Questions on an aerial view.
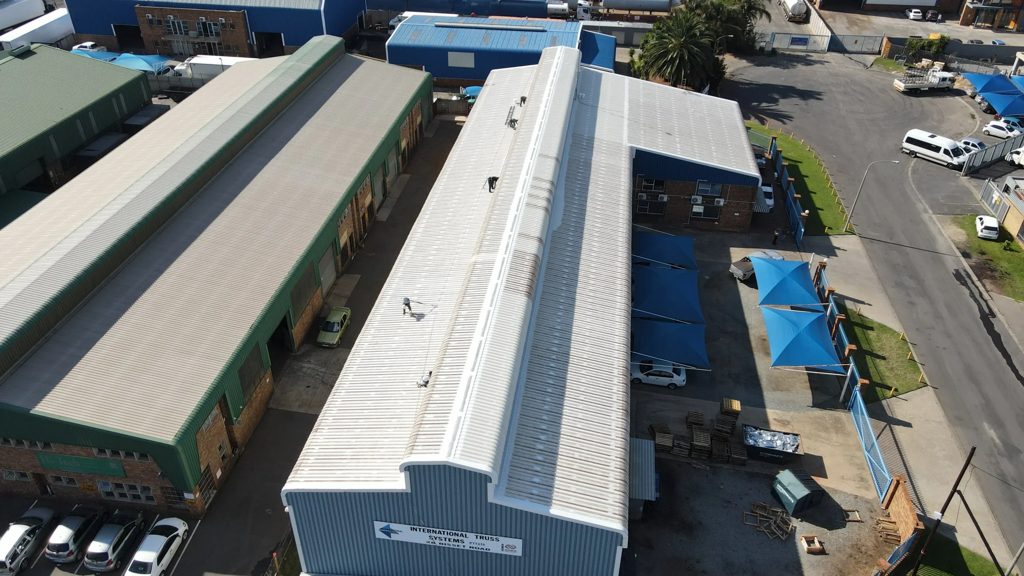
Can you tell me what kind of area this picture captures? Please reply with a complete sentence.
This image shows an industrial area.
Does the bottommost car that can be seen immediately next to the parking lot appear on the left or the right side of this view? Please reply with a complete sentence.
The bottommost car that can be seen immediately next to the parking lot is on the right side of the image.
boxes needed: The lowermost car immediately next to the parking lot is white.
[966,213,1002,237]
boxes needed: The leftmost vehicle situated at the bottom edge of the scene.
[0,504,56,575]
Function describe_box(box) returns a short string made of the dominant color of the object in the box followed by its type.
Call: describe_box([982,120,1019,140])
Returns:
white car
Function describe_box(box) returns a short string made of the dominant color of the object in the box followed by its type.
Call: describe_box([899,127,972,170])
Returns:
white vehicle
